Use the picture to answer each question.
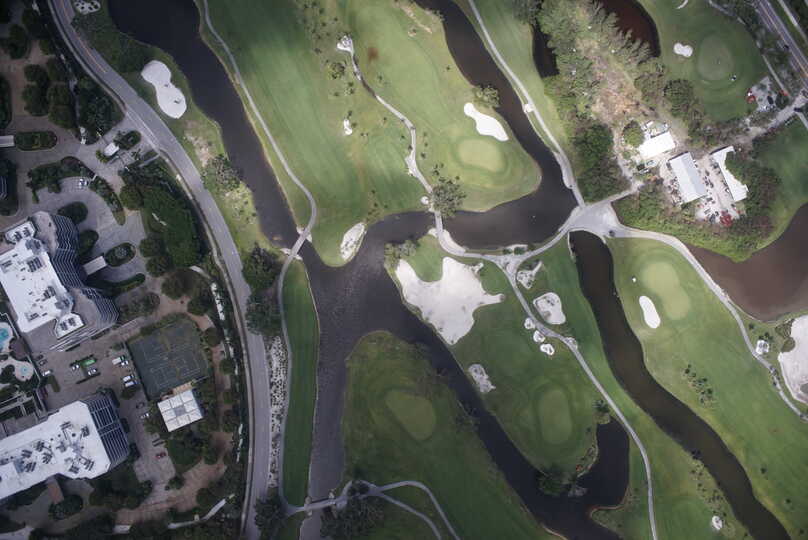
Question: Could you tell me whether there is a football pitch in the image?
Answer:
No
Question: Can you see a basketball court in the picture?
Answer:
No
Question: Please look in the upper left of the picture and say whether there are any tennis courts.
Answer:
No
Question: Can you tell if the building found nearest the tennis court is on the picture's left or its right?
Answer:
left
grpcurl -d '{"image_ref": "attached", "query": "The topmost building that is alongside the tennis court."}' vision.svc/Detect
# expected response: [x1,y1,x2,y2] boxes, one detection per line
[0,212,122,338]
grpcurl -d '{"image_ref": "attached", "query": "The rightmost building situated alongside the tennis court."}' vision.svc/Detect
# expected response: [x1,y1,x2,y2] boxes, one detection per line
[158,389,205,433]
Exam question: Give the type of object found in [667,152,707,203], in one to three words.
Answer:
shed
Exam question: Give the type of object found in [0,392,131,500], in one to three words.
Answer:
building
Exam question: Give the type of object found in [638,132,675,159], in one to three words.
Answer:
shed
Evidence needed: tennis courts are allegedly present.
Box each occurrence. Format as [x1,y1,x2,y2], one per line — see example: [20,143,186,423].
[128,316,208,399]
